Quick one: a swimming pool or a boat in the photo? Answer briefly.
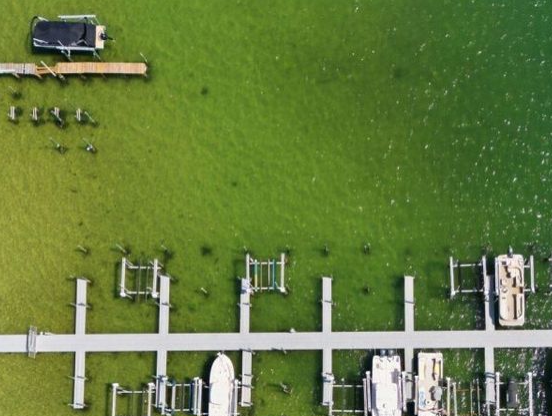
boat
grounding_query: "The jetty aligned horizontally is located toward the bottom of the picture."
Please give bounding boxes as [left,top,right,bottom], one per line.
[0,328,552,354]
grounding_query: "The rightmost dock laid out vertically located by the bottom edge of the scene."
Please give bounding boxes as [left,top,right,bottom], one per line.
[483,347,497,410]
